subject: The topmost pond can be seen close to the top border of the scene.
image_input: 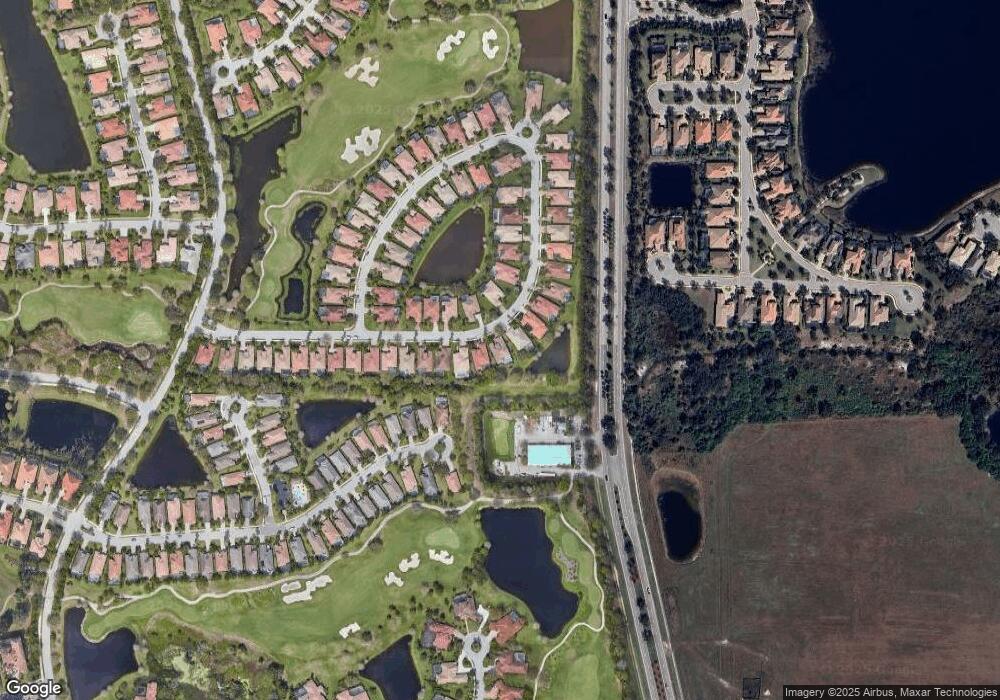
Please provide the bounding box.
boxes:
[515,0,575,83]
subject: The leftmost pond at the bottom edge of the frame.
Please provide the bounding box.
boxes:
[62,607,138,700]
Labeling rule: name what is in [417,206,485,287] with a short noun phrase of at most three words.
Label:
pond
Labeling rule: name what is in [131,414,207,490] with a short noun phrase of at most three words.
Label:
pond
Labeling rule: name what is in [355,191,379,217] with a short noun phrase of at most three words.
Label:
house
